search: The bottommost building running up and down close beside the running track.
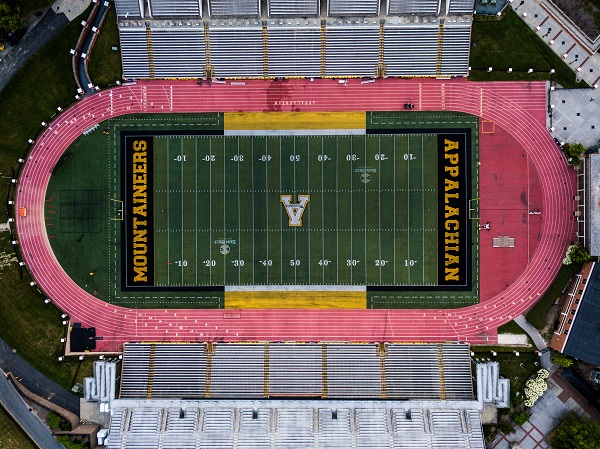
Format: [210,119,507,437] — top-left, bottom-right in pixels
[551,260,600,366]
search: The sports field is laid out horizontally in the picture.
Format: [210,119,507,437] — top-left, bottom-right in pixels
[45,112,479,309]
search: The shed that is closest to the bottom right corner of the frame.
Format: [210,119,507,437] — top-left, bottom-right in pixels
[557,362,600,409]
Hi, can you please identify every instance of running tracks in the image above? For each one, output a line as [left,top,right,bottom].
[16,81,578,352]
